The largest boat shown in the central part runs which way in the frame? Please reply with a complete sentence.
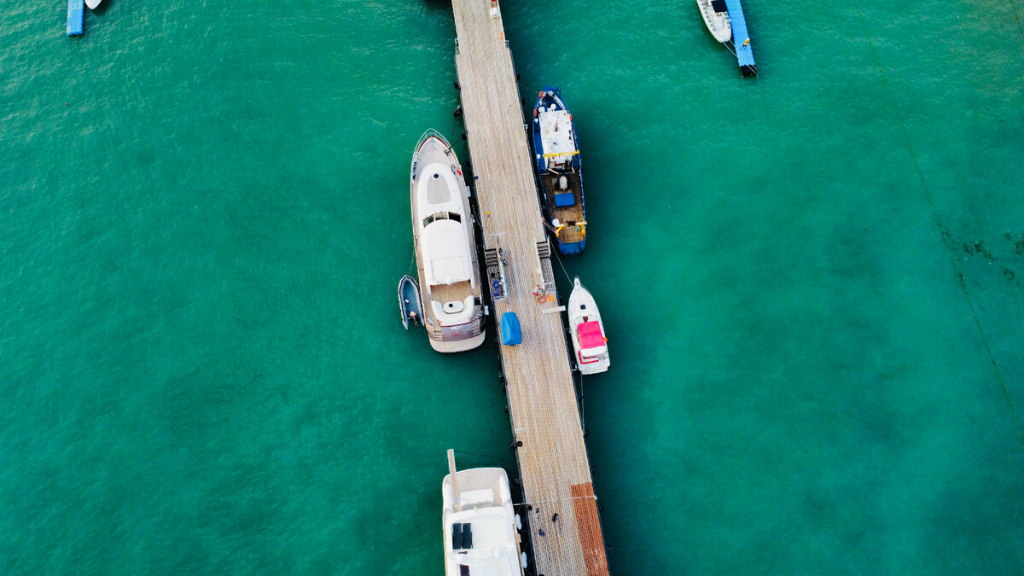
In this picture, the largest boat shown in the central part lies vertically.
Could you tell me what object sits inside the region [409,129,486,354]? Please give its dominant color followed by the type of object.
white boat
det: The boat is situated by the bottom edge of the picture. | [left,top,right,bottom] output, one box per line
[443,448,527,576]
